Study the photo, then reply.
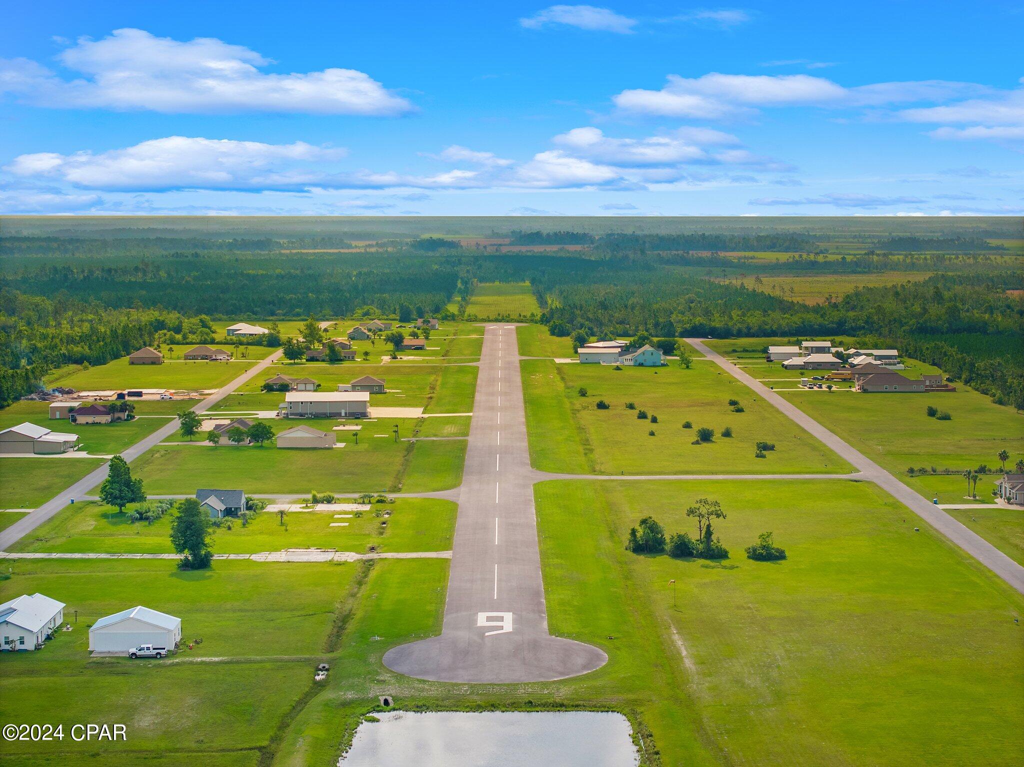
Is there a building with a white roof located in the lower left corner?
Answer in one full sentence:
Yes, I can see a building with a white roof in the lower left corner.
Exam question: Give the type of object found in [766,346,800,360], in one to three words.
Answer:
barn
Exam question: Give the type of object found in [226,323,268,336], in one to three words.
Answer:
house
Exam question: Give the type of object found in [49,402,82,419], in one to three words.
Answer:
shed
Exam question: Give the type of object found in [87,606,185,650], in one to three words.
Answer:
hangar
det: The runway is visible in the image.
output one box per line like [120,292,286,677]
[386,323,606,678]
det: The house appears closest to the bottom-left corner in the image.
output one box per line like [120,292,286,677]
[0,594,66,650]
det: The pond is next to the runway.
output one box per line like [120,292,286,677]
[342,709,643,767]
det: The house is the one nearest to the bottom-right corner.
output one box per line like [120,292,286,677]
[987,474,1024,503]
